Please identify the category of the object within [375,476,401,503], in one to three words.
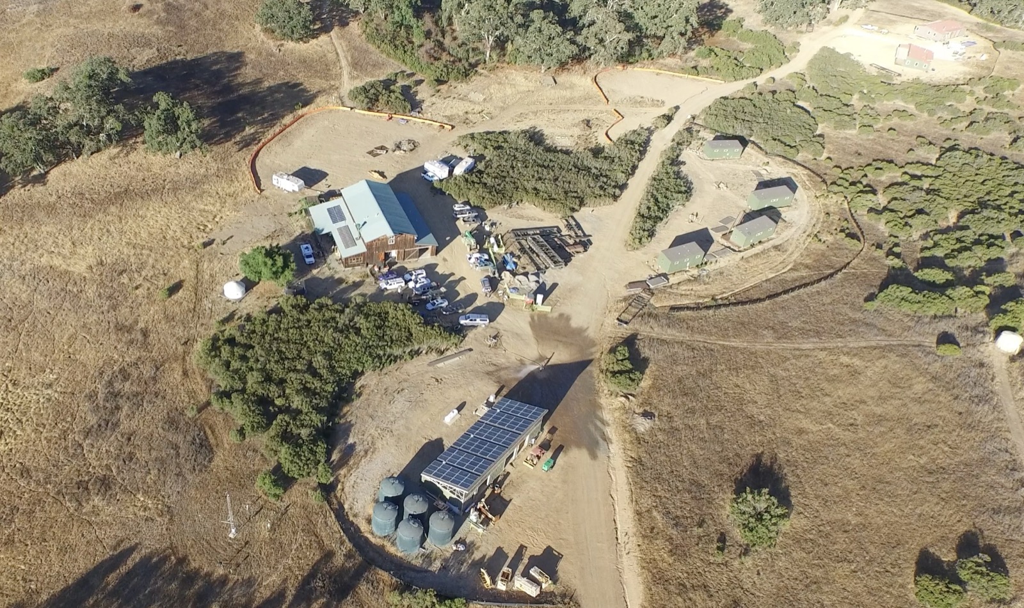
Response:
water tank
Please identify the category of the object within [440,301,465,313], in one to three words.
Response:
vehicle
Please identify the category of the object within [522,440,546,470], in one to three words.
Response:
work vehicle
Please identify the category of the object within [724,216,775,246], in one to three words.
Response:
building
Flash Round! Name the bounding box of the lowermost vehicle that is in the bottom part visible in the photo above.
[472,494,498,524]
